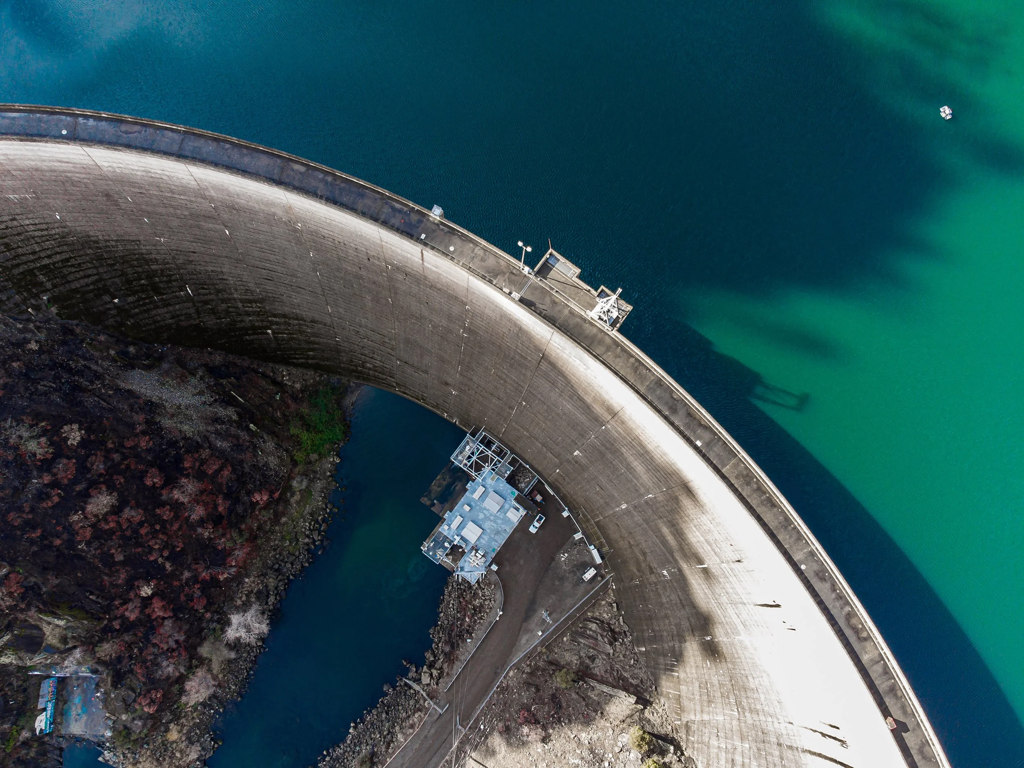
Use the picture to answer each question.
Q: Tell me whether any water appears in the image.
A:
Yes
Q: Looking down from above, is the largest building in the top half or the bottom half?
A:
bottom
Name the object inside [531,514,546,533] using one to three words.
vehicle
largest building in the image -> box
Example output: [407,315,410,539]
[439,475,526,584]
